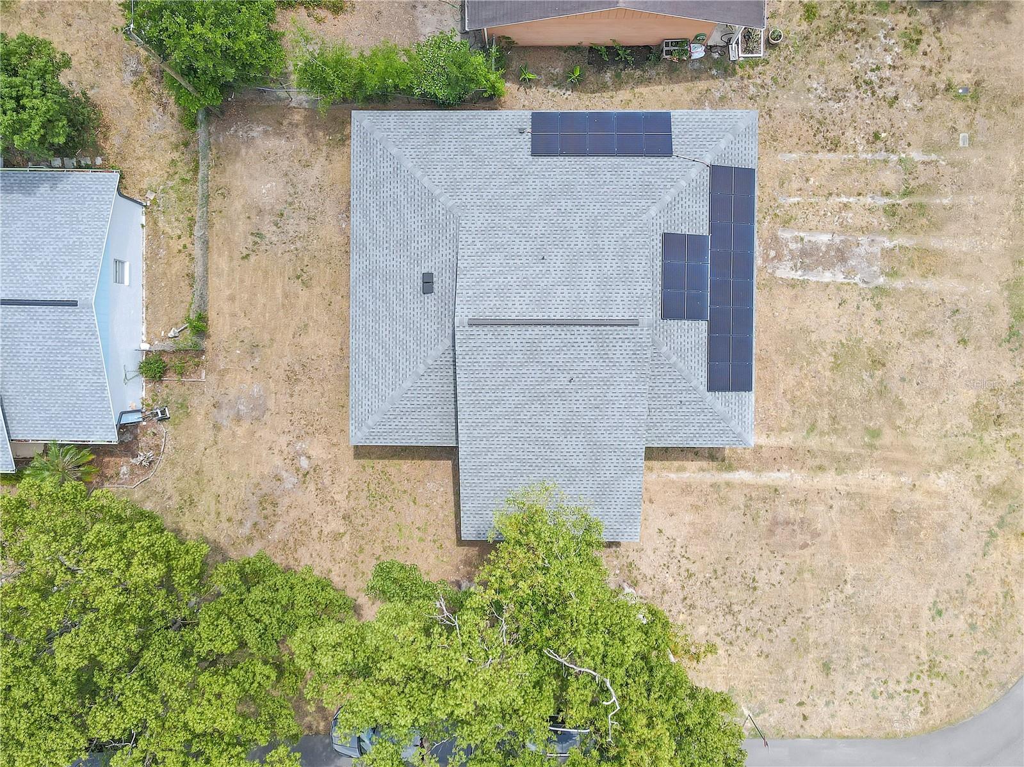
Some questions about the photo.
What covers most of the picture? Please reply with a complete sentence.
For the most part, this view shows grass.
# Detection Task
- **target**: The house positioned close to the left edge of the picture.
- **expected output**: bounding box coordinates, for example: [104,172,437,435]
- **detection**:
[0,168,149,477]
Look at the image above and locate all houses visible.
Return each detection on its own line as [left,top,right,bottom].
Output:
[348,107,758,541]
[0,168,149,477]
[465,0,768,54]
